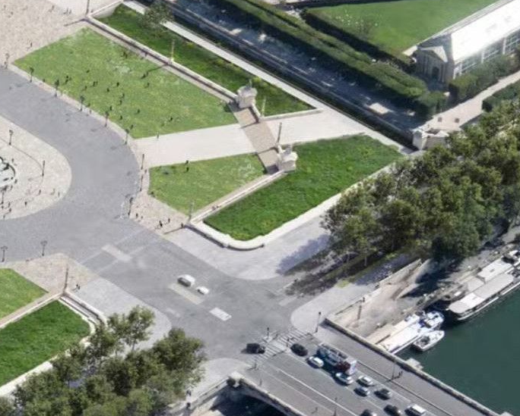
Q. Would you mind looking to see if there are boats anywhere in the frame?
Yes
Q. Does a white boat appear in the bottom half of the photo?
Yes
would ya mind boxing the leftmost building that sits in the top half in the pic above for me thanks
[237,85,255,109]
